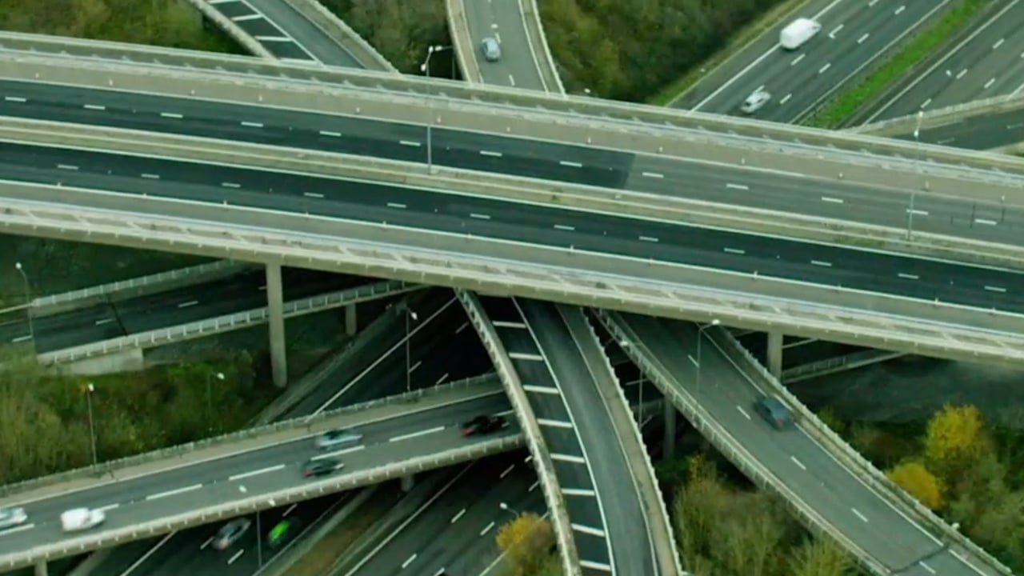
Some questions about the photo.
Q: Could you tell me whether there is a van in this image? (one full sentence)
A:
Yes, a van appears in the view.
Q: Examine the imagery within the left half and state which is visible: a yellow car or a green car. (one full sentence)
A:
There is a green car within the left half.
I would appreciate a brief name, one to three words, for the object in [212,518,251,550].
car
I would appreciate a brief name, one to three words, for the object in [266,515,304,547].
car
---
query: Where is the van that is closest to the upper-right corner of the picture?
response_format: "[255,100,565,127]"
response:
[781,20,820,52]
